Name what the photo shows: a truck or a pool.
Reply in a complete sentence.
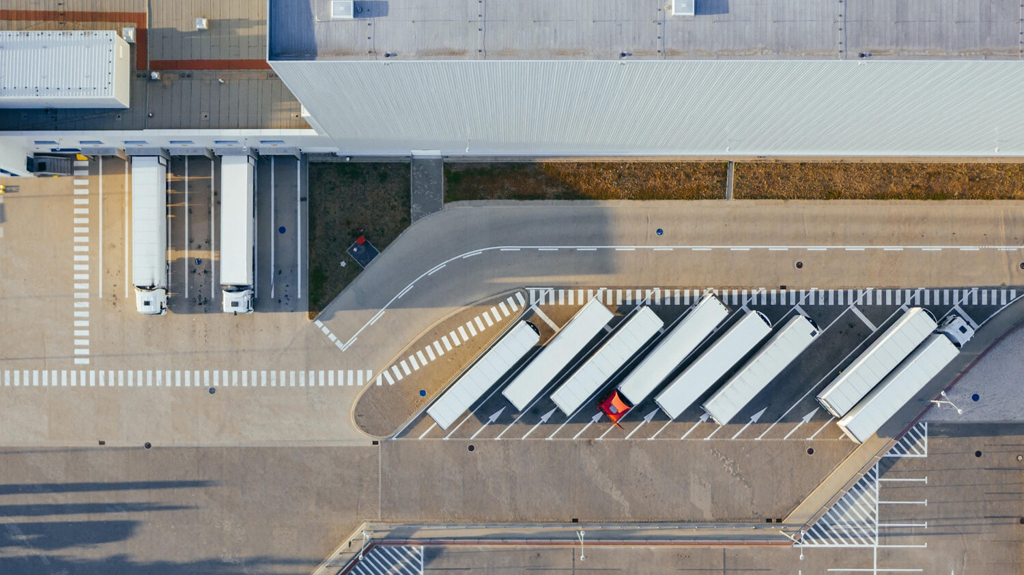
It is a truck that can be seen here.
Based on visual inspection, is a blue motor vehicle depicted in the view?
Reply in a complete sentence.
No, no blue motor vehicle can be seen from above.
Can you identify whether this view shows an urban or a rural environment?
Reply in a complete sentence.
From above, the setting appears urban.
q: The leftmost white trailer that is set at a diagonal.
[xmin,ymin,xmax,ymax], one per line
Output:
[428,320,540,429]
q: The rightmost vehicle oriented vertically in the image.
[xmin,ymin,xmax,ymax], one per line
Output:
[221,155,255,314]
